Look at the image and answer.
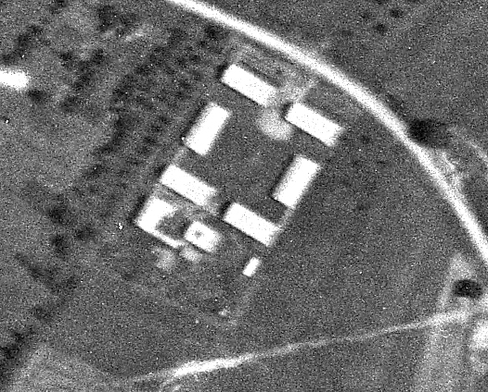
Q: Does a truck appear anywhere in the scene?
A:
No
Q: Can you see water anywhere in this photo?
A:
No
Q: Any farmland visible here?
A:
Yes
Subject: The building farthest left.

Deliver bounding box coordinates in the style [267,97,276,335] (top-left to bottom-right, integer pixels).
[137,196,186,248]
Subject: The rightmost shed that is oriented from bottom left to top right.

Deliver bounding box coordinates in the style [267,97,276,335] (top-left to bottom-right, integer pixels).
[273,154,318,209]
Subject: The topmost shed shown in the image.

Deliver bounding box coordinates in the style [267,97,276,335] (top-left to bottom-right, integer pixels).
[222,62,277,105]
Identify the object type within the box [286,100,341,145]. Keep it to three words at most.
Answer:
shed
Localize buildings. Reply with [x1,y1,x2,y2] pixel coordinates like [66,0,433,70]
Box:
[185,220,220,252]
[273,154,318,209]
[137,196,186,248]
[223,202,279,246]
[222,62,277,105]
[186,101,231,153]
[286,100,341,145]
[243,257,261,277]
[160,164,215,206]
